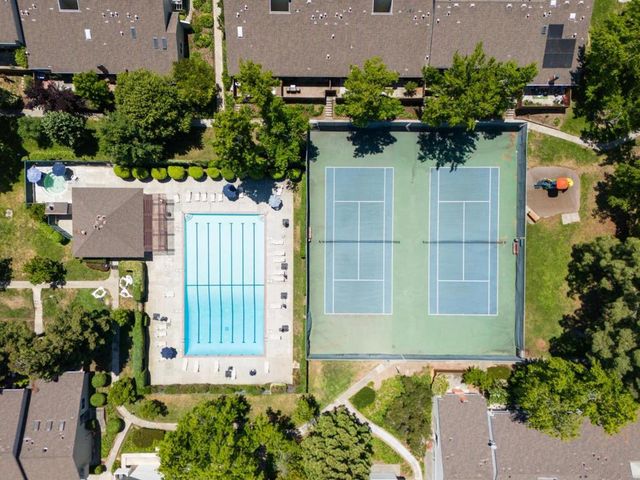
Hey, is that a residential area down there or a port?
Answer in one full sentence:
The picture captures a residential area.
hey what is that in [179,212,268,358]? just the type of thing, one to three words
swimming pool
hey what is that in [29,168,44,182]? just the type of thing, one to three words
umbrella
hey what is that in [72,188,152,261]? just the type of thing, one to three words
building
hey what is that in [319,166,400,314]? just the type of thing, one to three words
tennis court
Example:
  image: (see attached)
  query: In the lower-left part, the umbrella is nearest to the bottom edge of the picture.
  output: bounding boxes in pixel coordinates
[161,346,174,359]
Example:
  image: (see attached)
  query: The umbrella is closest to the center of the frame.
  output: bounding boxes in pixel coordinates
[269,194,282,208]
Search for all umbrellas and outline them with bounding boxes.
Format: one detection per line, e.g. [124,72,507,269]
[269,194,282,208]
[161,346,174,359]
[29,168,44,182]
[224,185,238,199]
[53,163,69,177]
